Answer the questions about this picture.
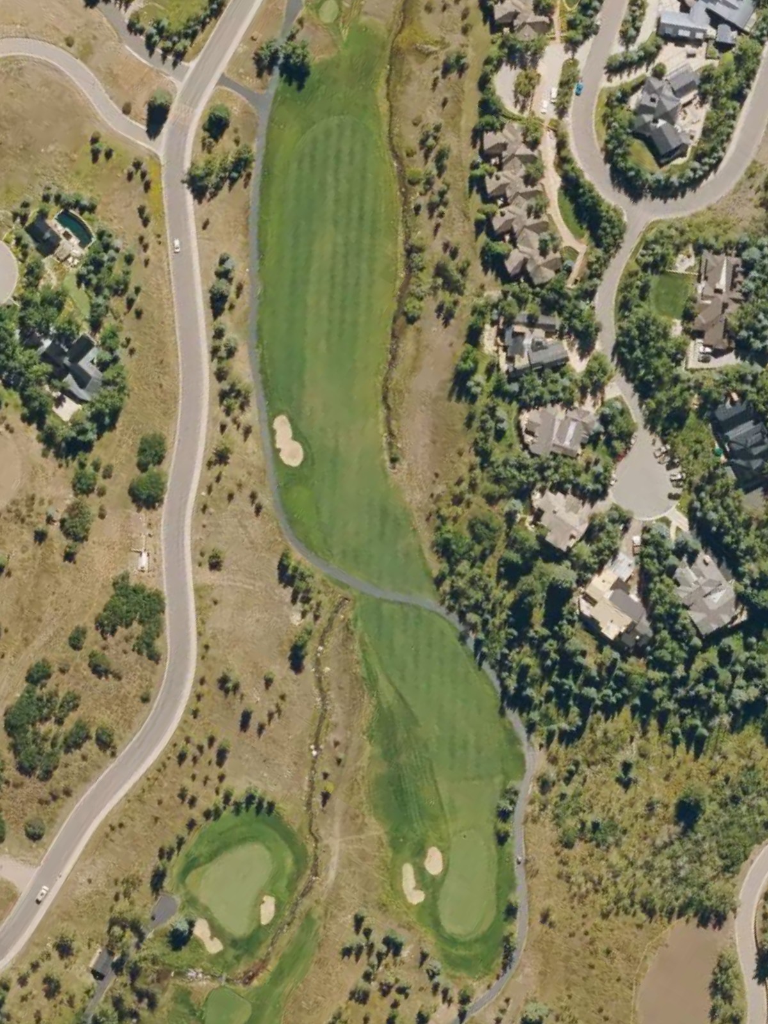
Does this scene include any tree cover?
Yes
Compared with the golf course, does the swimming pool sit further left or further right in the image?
on its left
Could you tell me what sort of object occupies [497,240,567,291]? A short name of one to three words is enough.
house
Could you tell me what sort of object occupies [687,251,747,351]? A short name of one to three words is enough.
house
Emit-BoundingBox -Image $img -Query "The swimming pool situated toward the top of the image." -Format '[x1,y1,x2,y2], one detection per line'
[54,209,94,248]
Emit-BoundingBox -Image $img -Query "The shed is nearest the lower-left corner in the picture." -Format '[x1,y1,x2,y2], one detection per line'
[90,949,115,978]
